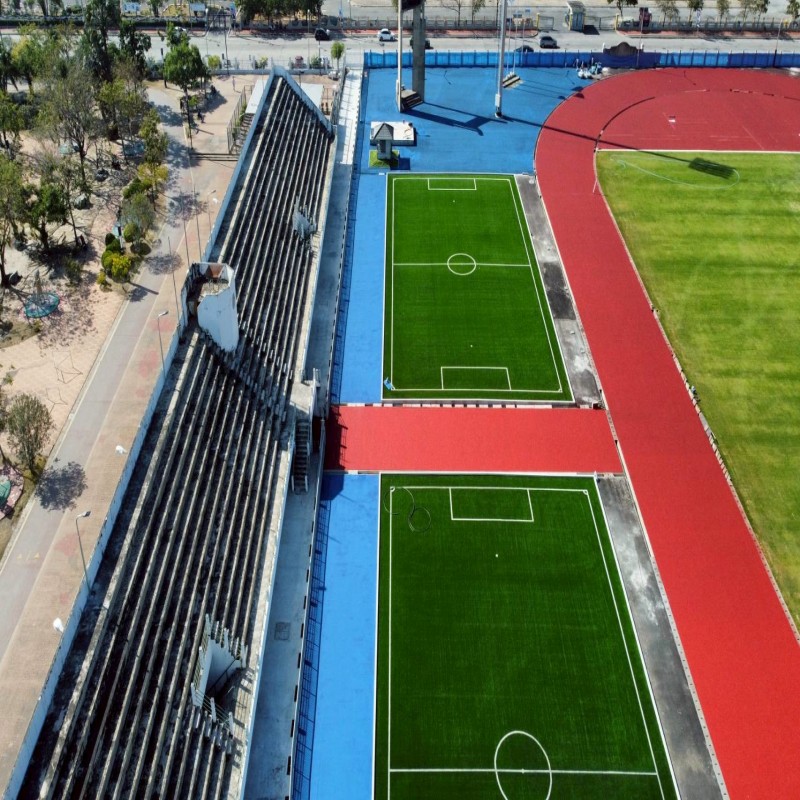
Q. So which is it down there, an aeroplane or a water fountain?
water fountain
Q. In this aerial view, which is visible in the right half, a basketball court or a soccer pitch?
soccer pitch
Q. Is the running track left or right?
right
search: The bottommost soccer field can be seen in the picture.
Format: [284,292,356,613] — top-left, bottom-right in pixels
[372,473,680,800]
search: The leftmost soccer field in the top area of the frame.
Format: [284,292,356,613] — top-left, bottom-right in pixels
[380,173,576,400]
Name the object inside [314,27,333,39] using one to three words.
vehicle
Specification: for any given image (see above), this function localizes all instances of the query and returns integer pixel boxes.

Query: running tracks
[535,66,800,800]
